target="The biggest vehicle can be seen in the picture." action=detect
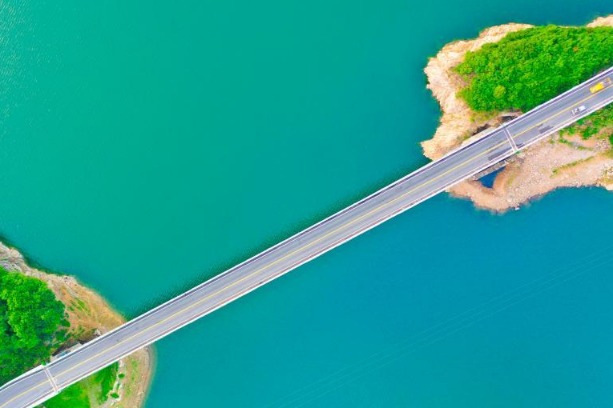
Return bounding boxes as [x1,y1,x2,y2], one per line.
[587,77,612,95]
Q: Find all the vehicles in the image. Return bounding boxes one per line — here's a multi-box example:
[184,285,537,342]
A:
[569,103,587,116]
[587,77,612,95]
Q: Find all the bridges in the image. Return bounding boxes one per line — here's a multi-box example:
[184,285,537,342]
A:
[43,124,520,394]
